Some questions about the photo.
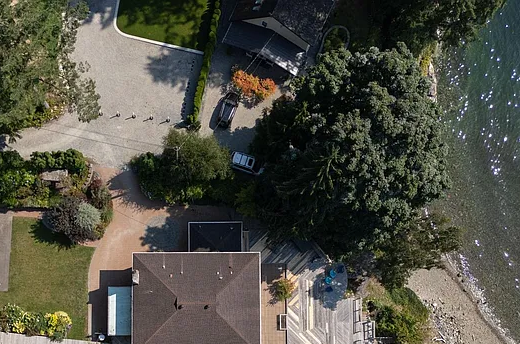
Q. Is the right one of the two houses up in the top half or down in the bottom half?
top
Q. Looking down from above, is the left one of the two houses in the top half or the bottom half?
bottom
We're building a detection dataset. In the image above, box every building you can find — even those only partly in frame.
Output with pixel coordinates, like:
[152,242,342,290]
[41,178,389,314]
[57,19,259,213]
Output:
[132,221,262,344]
[221,0,331,83]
